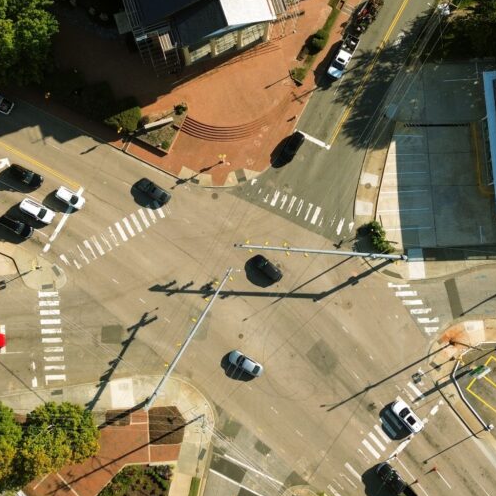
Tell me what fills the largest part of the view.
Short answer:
paved ground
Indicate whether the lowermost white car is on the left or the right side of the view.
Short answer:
right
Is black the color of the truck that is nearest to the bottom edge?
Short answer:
Yes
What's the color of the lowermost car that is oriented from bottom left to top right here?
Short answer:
black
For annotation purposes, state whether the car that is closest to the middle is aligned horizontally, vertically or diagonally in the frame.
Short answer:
diagonally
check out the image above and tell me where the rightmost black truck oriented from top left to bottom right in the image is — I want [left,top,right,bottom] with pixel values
[373,458,420,496]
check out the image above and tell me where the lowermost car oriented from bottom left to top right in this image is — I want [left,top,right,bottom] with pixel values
[273,130,306,167]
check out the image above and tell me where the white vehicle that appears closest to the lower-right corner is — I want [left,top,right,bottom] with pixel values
[387,395,428,437]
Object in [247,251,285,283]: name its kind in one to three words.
car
